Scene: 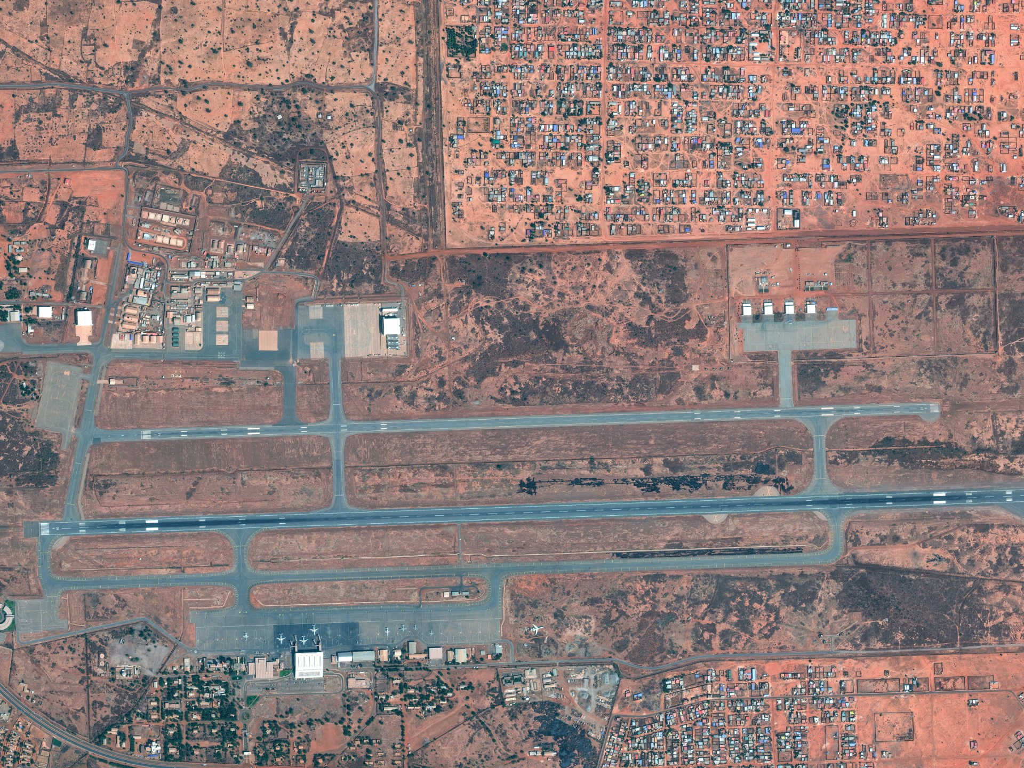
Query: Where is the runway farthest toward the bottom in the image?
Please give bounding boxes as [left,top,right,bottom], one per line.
[39,487,1024,537]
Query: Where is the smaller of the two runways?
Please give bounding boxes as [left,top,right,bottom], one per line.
[100,402,939,442]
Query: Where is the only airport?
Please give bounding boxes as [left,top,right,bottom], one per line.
[0,246,1024,652]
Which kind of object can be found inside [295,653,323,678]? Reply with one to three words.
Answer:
building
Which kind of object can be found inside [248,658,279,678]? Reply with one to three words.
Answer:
building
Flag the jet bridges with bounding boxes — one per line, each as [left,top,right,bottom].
[289,635,297,652]
[313,634,321,652]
